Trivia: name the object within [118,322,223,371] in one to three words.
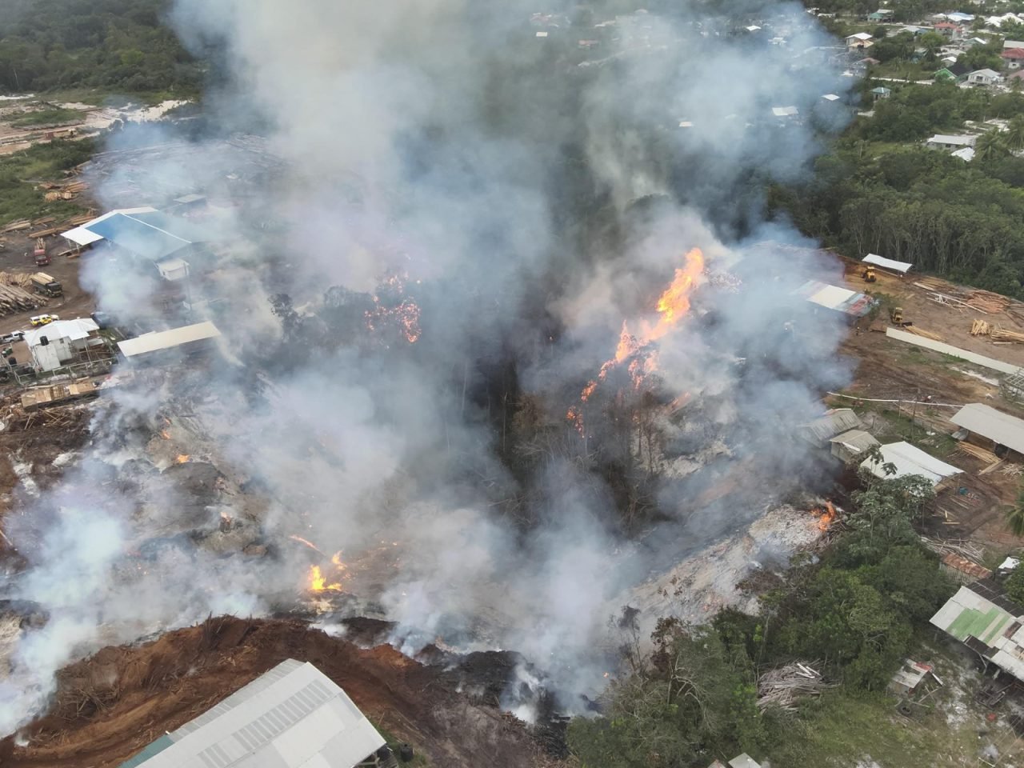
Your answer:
shed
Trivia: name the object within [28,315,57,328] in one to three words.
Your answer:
vehicle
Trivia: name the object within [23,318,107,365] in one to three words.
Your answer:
house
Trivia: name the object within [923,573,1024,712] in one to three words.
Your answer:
building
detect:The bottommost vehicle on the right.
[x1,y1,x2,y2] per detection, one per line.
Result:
[889,307,911,330]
